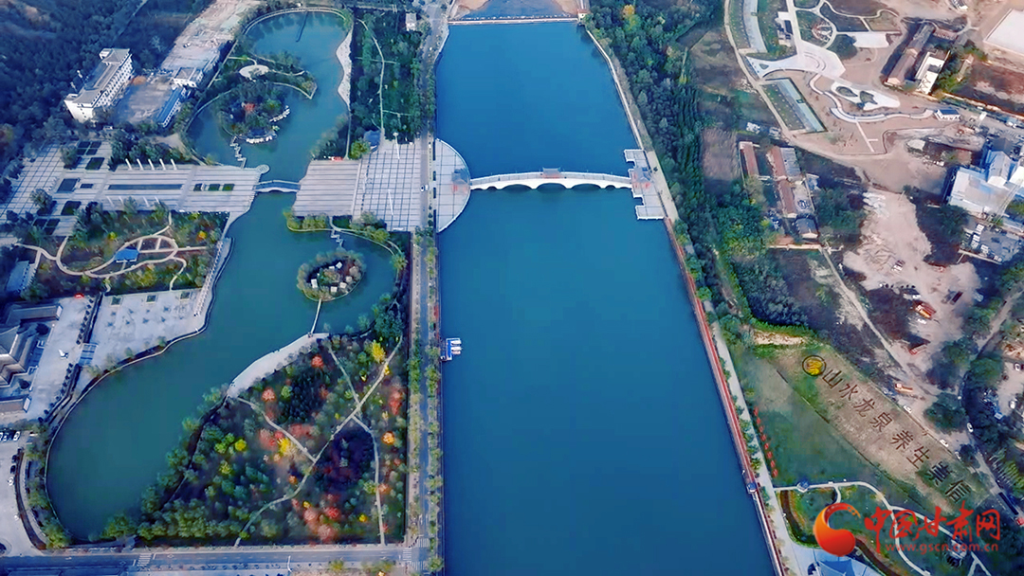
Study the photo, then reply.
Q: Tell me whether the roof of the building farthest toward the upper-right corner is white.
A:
Yes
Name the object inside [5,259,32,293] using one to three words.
building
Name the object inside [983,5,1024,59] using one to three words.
building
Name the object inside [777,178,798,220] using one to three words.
barn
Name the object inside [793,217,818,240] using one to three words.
house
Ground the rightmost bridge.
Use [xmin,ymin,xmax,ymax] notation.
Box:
[468,171,633,190]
